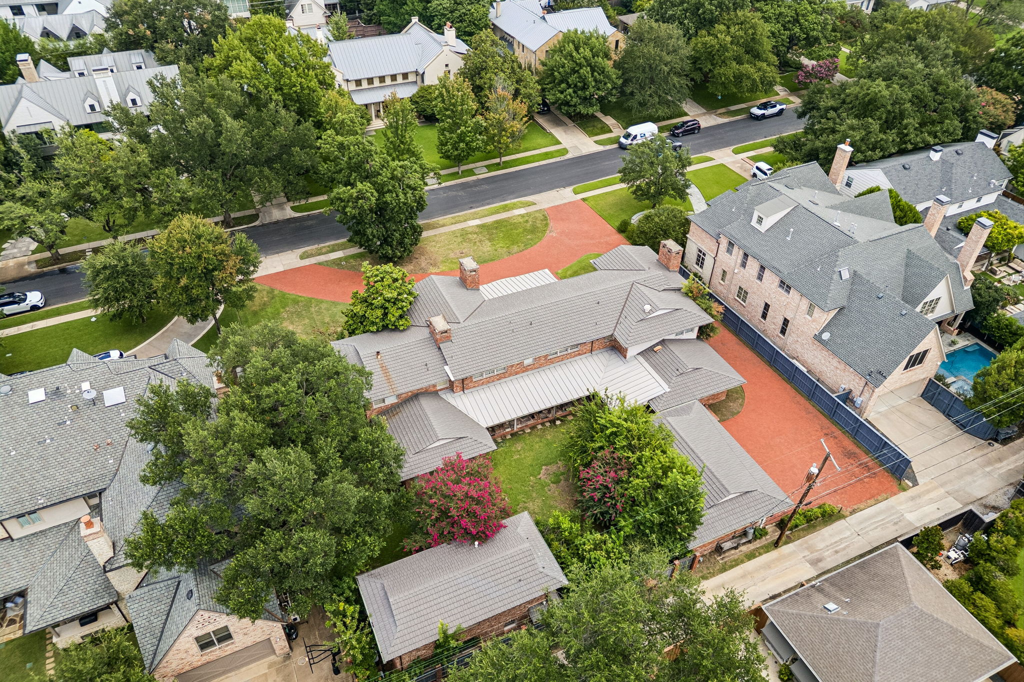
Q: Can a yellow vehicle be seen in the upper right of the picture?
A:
No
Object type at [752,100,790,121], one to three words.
truck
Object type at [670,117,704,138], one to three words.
car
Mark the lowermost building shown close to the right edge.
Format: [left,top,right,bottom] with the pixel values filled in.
[758,540,1024,682]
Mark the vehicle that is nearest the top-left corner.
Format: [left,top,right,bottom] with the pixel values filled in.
[0,288,48,318]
